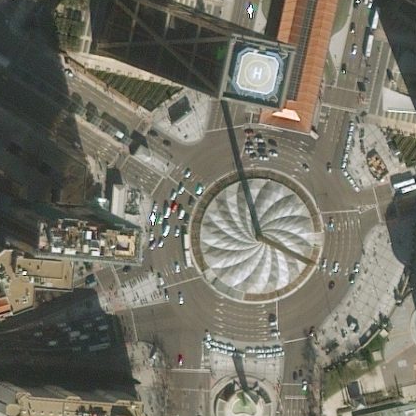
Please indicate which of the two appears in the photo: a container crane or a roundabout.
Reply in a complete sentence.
There is a roundabout in the scene.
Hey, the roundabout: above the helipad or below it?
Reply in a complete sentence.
Looking at the scene, the roundabout is located below the helipad.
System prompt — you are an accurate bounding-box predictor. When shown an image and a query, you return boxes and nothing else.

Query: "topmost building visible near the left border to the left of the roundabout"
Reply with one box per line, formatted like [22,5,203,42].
[0,108,85,205]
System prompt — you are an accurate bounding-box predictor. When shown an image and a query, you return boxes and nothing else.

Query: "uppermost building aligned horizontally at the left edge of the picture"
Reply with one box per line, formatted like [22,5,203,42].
[0,201,142,265]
